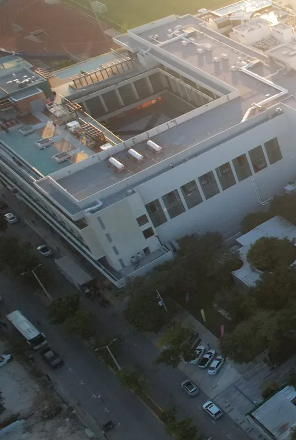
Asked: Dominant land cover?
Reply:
buildings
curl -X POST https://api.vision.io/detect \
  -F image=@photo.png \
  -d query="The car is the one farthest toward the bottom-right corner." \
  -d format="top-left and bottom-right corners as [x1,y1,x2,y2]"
[200,398,225,422]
